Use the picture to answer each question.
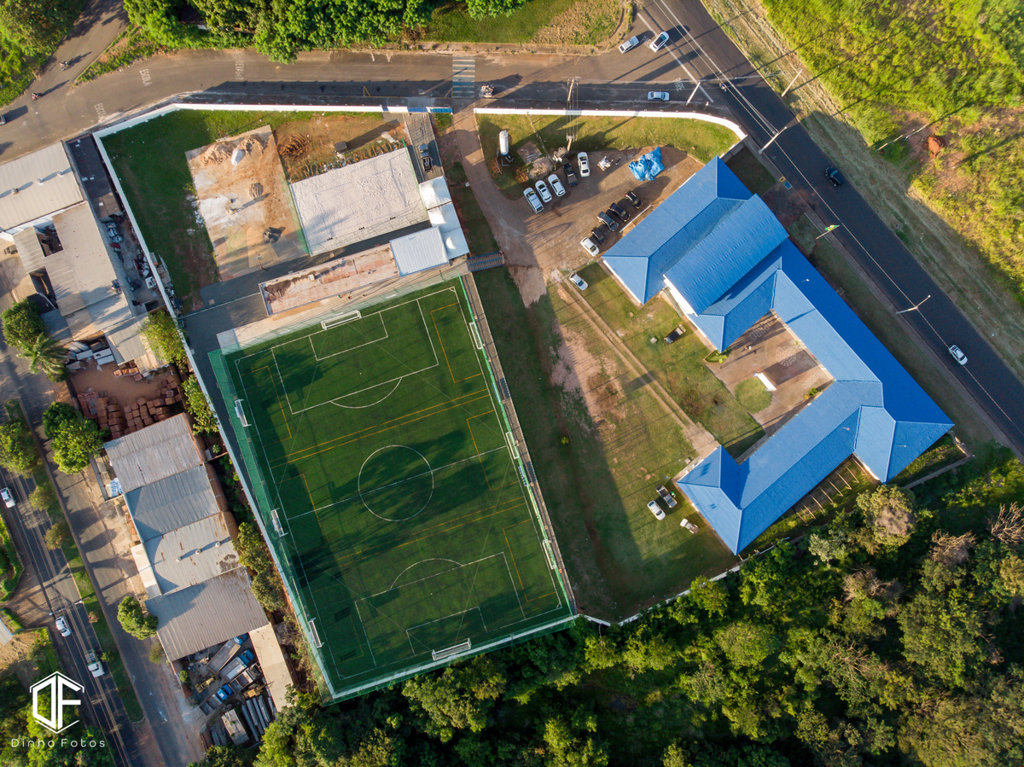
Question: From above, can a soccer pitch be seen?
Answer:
Yes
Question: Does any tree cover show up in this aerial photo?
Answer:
Yes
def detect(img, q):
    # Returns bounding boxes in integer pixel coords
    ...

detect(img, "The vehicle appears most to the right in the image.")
[946,343,968,367]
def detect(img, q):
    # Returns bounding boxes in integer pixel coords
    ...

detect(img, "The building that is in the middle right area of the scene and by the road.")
[602,155,955,555]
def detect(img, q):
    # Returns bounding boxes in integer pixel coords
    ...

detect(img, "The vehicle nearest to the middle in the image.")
[568,270,589,293]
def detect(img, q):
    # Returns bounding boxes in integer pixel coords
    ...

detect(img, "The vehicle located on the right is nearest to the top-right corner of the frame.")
[822,165,845,188]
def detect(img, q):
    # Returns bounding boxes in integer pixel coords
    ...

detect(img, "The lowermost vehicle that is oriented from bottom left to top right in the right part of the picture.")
[662,321,689,346]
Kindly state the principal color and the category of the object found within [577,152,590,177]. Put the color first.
white vehicle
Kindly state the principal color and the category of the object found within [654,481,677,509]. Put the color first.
gray truck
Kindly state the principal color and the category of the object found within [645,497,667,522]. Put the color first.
white car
